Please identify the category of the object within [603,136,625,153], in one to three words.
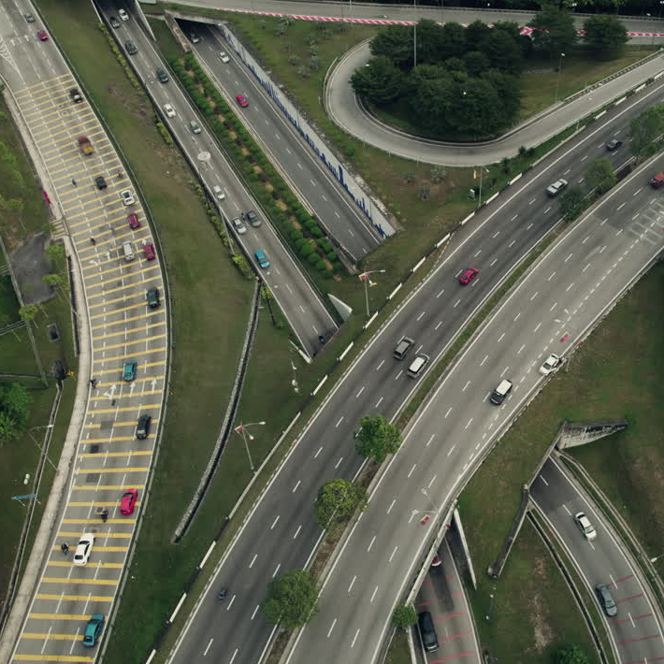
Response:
vehicle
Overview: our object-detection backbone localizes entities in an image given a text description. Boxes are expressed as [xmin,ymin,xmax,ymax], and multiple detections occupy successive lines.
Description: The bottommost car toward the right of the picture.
[419,614,438,651]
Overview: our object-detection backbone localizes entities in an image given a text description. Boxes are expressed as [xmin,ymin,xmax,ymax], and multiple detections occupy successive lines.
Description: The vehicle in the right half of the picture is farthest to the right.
[646,170,664,189]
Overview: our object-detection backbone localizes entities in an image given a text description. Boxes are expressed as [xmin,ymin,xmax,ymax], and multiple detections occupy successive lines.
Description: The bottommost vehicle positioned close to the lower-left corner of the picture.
[81,611,106,650]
